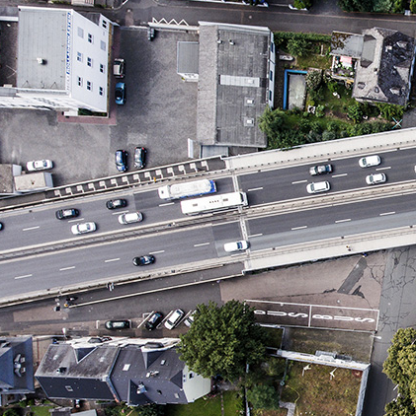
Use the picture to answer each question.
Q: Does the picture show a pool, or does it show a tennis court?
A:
pool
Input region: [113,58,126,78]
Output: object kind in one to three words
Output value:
vehicle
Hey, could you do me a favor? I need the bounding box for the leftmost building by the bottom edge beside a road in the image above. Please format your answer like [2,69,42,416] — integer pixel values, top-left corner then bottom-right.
[0,328,61,408]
